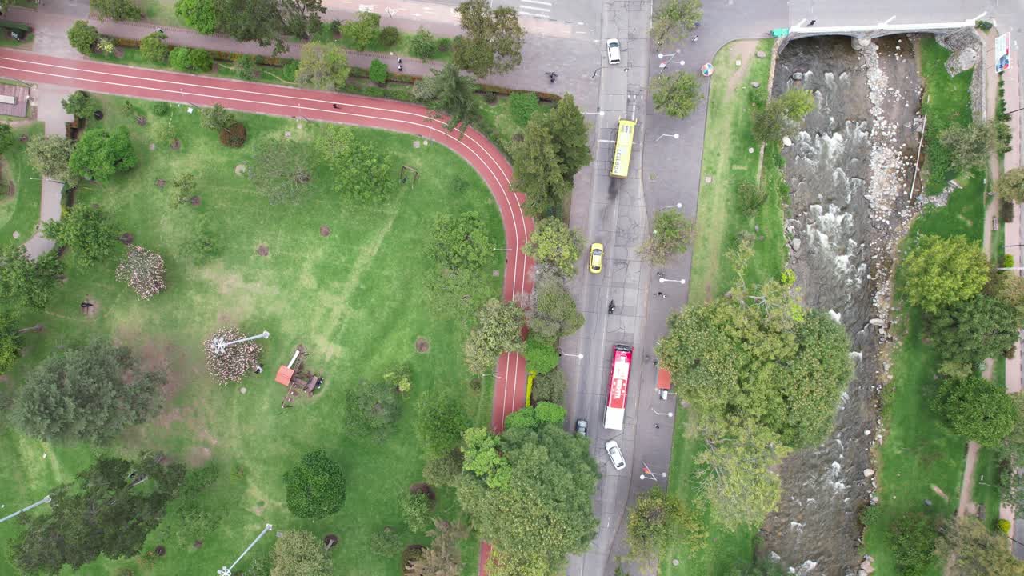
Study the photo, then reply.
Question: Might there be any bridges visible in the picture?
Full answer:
Yes, the image includes a bridge.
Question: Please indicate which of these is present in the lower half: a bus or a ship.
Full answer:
Looking in the lower half, you will find a bus.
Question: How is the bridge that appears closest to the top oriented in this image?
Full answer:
From this overhead view, the bridge that appears closest to the top appears to run horizontally.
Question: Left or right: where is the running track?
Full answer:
The running track sits on the left side.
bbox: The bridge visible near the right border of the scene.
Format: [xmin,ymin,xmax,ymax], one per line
[776,10,998,49]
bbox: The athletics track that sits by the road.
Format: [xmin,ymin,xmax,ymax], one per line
[0,48,534,576]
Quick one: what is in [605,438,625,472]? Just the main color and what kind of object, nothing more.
white car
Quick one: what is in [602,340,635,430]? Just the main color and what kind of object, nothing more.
white bus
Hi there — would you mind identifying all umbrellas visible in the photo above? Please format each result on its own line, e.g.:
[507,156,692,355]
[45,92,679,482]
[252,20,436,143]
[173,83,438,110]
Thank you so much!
[700,62,714,76]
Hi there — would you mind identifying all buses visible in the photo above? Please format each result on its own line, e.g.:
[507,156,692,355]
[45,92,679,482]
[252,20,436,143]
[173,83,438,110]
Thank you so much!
[602,340,635,430]
[608,117,637,181]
